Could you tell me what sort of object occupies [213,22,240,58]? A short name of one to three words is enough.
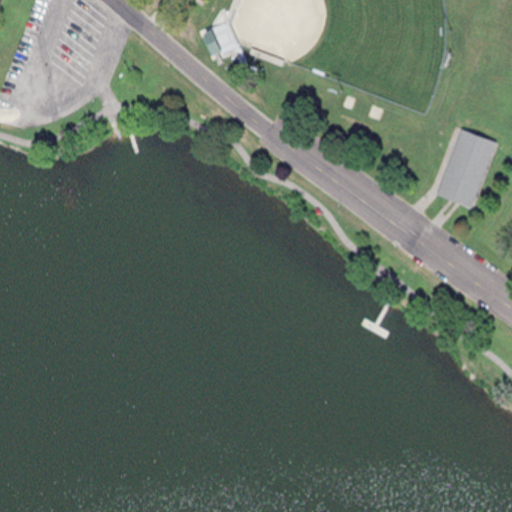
building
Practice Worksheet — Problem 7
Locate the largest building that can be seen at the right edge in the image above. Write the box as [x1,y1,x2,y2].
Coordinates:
[437,128,498,208]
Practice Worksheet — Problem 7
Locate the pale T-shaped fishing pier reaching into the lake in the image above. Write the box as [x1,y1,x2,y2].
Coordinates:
[362,304,390,340]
